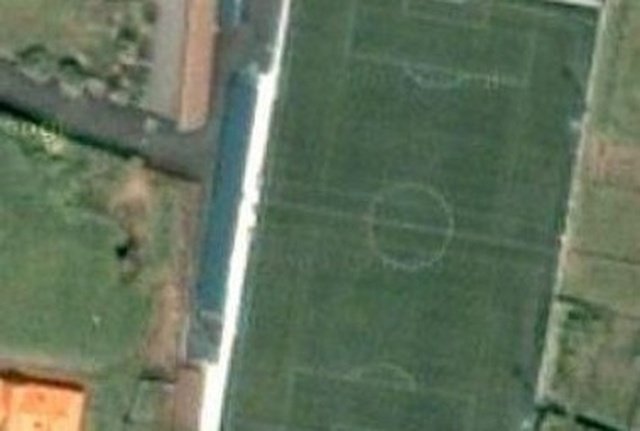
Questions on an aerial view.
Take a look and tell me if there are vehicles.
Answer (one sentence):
No, no vehicle is visible in the view.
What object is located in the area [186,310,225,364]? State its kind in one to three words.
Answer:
building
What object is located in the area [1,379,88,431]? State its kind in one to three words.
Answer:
house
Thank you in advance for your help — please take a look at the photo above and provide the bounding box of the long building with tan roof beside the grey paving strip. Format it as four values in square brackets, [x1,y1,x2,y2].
[181,0,219,131]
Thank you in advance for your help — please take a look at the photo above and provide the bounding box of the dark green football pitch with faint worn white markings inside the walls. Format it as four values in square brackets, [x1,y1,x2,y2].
[222,0,599,431]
